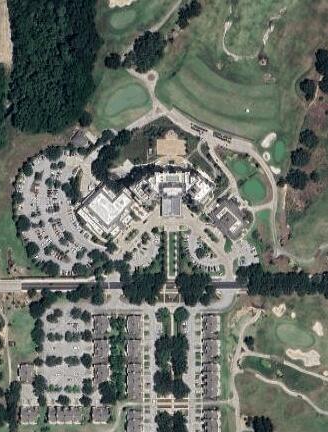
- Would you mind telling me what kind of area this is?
golf course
